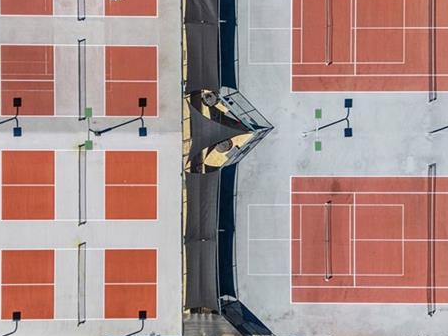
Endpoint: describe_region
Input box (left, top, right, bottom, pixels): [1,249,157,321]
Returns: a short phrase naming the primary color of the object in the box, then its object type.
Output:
red sports court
